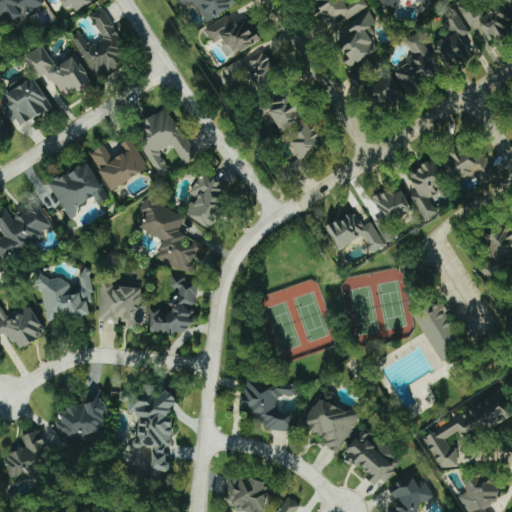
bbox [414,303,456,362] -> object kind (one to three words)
building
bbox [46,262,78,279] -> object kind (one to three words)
swimming pool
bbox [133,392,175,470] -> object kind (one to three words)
house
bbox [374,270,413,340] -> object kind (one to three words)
tennis court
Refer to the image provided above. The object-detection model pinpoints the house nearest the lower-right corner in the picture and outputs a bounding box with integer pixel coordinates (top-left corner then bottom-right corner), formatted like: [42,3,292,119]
[460,480,499,512]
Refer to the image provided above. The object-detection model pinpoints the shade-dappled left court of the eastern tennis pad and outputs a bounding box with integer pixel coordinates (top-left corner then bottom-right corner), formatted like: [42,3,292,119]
[344,274,386,344]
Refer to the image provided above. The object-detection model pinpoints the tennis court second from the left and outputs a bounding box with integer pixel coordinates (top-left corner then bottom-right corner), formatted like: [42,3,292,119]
[290,280,335,350]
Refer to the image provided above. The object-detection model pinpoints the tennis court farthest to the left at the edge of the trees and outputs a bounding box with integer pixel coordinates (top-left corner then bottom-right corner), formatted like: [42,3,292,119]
[266,290,312,358]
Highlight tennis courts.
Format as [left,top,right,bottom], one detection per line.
[344,274,386,344]
[290,280,335,350]
[374,270,413,340]
[266,290,312,358]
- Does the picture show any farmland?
No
